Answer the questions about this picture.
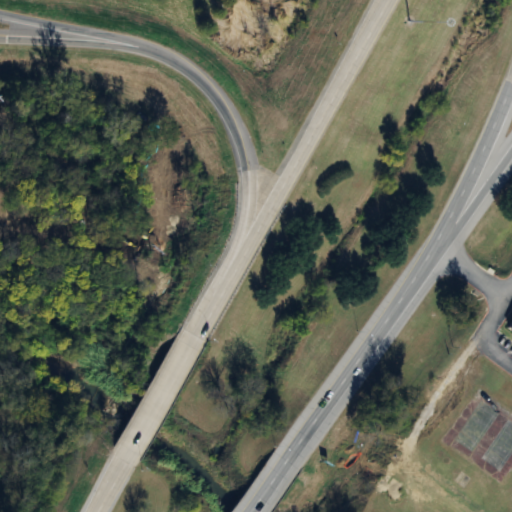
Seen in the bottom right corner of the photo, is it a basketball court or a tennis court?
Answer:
tennis court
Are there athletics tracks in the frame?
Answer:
No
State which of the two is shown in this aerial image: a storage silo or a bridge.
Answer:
bridge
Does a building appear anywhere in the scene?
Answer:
No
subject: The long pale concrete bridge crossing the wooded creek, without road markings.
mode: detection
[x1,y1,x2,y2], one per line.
[110,326,208,463]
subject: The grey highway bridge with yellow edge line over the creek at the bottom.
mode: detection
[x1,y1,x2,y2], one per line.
[232,447,304,512]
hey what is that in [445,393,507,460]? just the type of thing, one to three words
tennis court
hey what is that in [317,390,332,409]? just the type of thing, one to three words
vehicle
